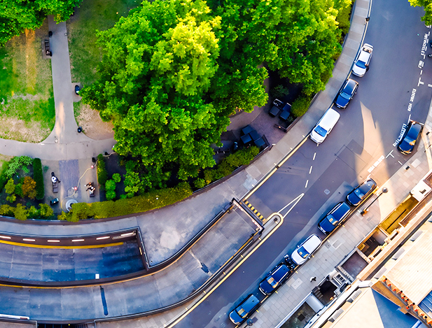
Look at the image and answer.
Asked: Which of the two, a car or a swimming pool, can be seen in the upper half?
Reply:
car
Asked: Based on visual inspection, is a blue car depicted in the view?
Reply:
Yes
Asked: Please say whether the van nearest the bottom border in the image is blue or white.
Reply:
blue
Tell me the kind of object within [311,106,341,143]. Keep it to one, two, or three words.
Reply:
van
